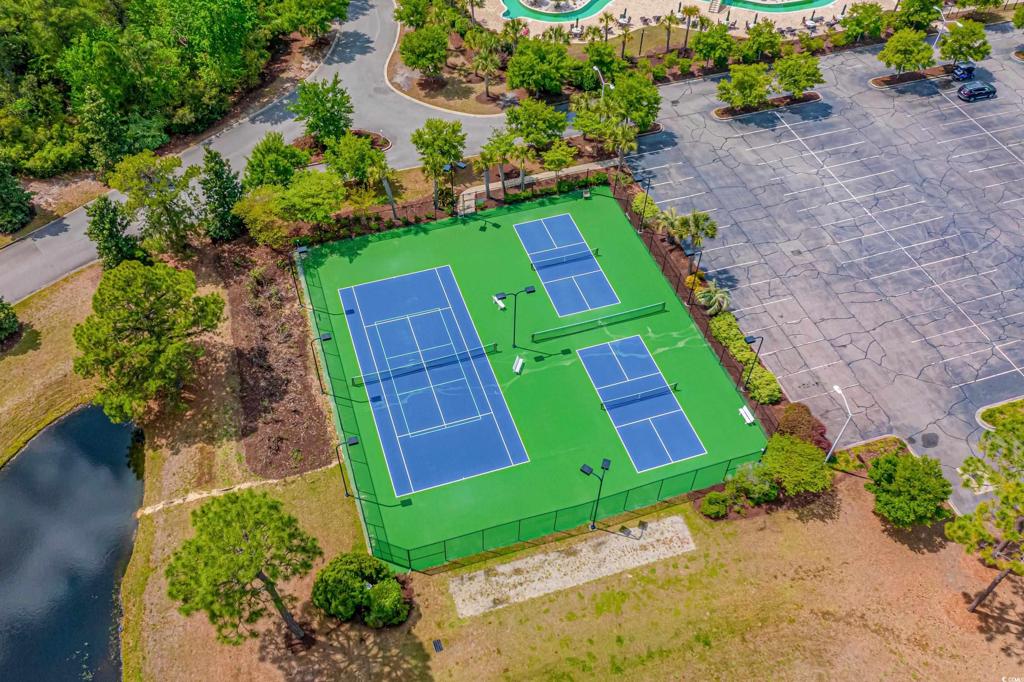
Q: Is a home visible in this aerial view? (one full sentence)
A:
No, I can see no home in this picture.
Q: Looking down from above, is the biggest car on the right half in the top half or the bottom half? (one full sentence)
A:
The biggest car on the right half is in the top half of the image.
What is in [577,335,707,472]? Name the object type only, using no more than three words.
sports court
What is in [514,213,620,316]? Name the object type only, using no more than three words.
sports court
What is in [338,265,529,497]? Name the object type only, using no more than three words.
tennis court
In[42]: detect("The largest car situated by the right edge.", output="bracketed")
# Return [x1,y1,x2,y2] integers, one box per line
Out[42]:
[958,78,997,99]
